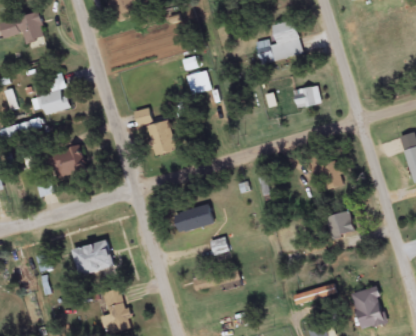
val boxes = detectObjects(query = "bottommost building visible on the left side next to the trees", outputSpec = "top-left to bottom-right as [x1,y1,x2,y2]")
[102,294,134,333]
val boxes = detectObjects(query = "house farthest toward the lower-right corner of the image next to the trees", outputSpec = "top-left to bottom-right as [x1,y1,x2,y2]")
[352,286,388,328]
